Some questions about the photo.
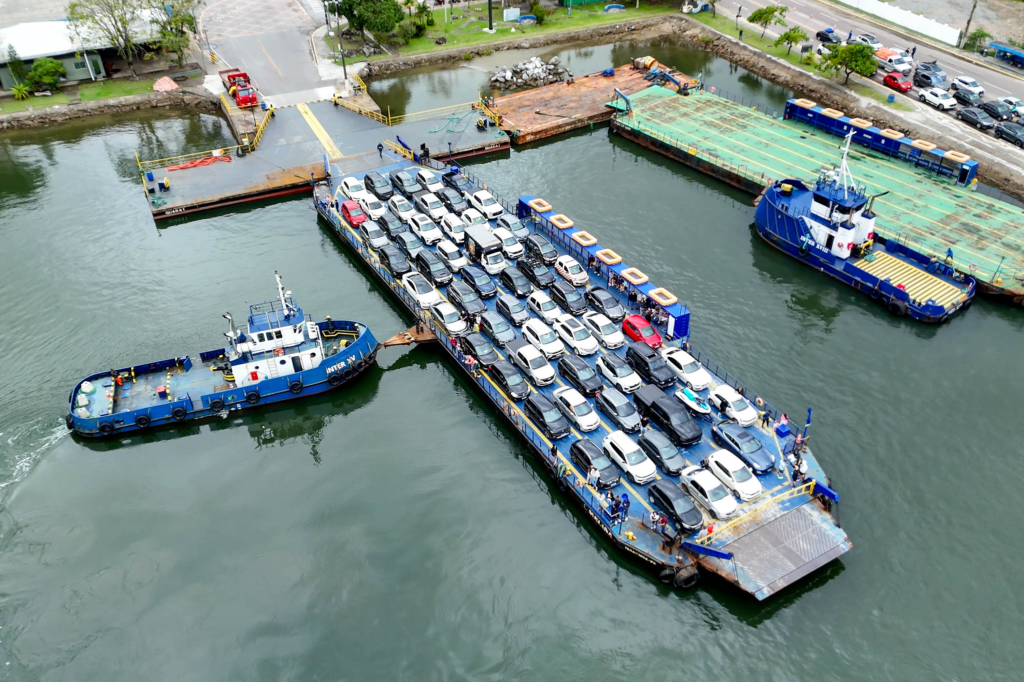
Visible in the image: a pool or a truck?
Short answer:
truck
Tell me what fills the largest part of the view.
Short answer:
water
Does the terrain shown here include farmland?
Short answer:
No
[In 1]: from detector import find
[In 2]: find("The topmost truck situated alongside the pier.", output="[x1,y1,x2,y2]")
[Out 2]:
[225,68,255,99]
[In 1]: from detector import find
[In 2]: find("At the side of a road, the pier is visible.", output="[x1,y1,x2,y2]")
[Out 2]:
[132,90,512,220]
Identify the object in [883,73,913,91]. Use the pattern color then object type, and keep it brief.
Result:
red car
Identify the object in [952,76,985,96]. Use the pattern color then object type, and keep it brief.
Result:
white car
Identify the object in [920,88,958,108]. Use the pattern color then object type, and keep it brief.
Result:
white vehicle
